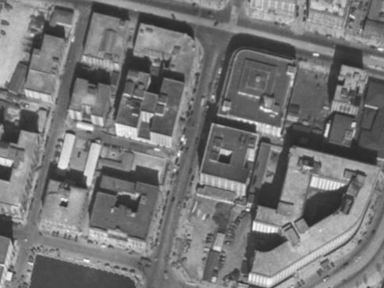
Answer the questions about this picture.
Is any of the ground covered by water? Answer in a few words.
No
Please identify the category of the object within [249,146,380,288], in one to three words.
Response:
building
